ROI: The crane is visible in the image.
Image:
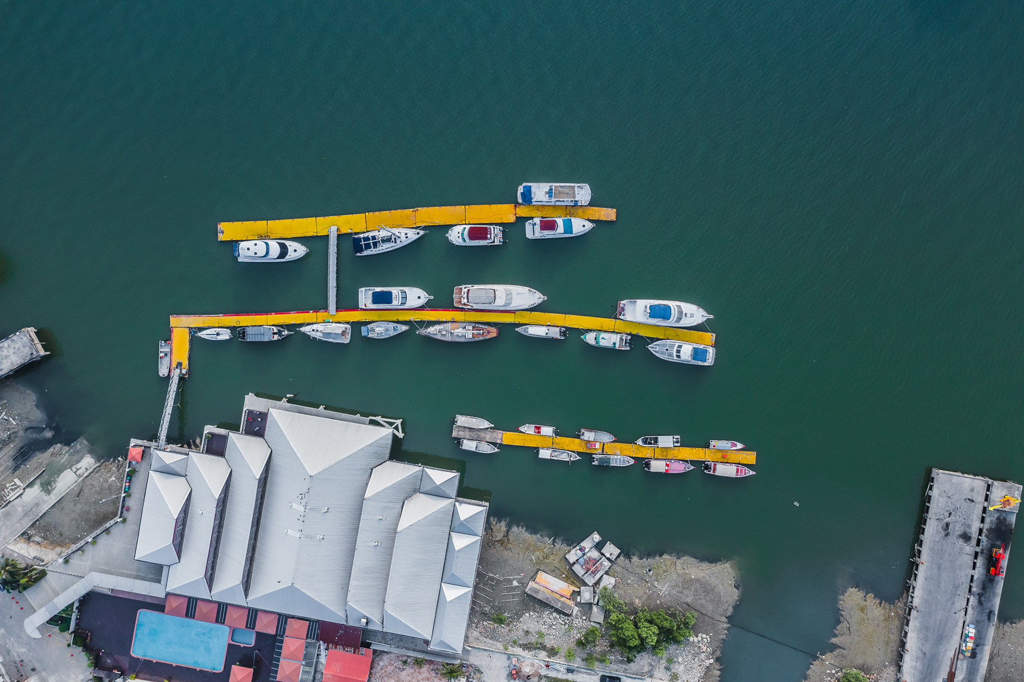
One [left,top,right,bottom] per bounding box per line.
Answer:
[985,542,1007,576]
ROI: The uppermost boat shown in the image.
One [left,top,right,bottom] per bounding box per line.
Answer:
[517,183,593,206]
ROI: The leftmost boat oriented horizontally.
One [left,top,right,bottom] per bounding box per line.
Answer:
[194,328,234,340]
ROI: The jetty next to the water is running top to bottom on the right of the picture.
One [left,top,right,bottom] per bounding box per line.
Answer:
[890,467,1022,682]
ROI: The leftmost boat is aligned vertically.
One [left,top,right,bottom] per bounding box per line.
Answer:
[158,337,170,377]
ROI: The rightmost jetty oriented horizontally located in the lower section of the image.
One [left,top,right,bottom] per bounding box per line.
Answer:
[454,425,756,464]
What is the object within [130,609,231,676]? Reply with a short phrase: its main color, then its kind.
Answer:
blue swimming pool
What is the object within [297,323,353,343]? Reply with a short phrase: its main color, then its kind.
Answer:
white boat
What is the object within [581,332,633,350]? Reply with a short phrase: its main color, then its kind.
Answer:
white boat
